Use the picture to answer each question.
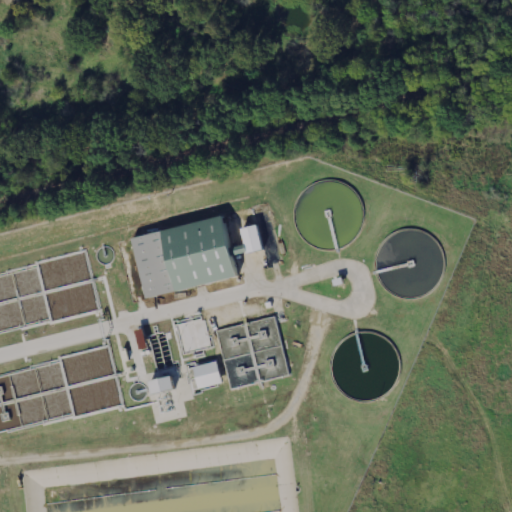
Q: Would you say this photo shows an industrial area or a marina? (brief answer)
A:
industrial area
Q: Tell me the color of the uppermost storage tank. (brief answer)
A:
green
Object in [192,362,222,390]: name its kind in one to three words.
building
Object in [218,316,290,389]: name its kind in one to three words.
storage tank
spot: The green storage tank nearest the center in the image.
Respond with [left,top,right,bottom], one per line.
[294,180,365,254]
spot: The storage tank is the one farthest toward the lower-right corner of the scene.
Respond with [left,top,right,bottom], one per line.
[332,330,400,401]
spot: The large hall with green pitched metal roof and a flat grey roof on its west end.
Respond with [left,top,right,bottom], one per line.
[129,214,238,299]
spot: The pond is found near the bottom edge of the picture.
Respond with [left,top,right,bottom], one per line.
[23,436,300,512]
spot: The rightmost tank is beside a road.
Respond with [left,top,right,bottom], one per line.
[374,229,446,298]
